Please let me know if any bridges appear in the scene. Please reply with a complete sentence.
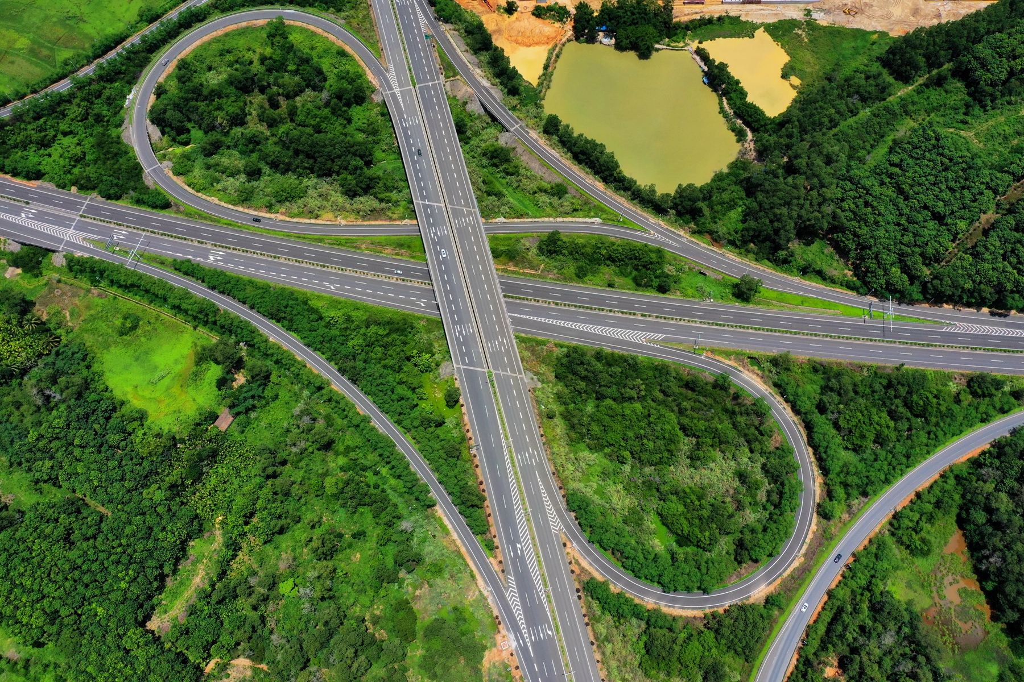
Yes, there's a bridge here.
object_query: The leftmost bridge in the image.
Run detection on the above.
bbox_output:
[17,186,89,250]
